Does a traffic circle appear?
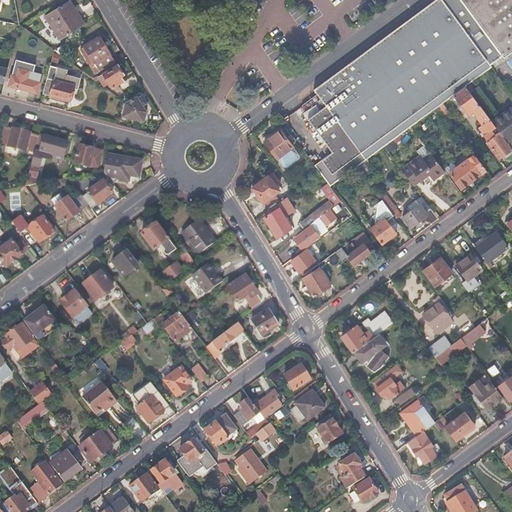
Yes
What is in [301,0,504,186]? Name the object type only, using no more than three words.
warehouse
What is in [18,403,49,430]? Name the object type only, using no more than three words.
shed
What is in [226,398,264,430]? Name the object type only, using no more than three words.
house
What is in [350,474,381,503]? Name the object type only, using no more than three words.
house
